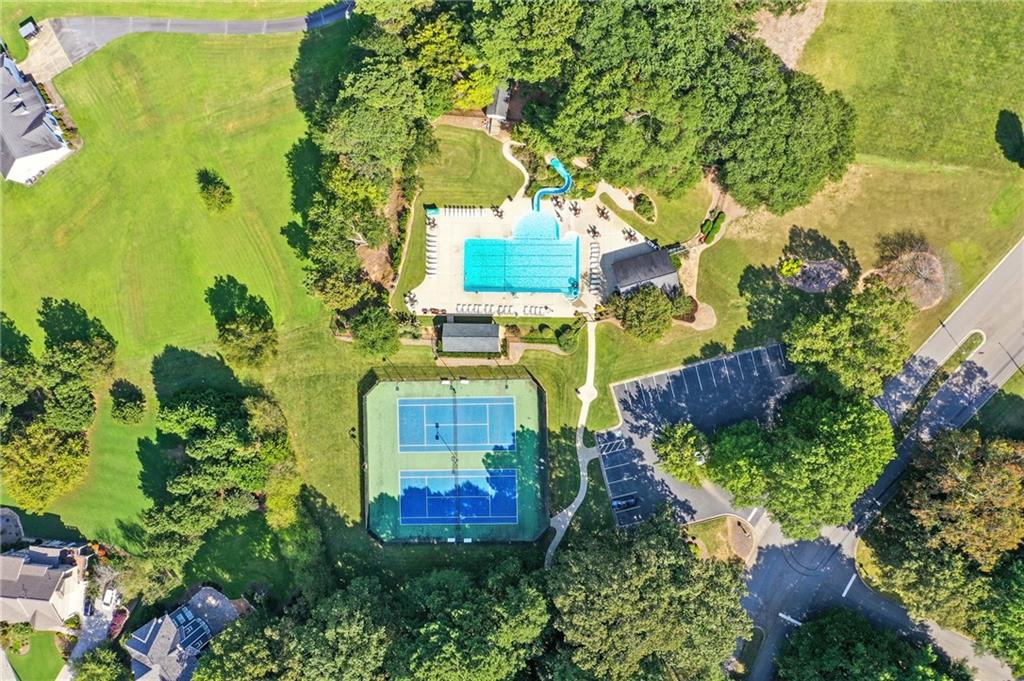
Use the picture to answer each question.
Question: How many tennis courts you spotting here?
2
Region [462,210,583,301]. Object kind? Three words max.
swimming pool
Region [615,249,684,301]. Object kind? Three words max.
building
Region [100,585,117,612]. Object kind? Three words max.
car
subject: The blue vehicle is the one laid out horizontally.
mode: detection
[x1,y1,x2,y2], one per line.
[613,496,637,510]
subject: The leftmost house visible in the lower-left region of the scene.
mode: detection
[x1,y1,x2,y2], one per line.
[0,548,80,635]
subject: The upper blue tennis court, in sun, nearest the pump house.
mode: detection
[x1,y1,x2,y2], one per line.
[367,379,547,461]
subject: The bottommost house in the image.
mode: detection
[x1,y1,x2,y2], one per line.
[123,595,202,681]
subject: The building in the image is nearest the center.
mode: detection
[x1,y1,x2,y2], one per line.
[440,322,500,352]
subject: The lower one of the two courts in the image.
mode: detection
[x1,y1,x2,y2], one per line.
[368,461,548,541]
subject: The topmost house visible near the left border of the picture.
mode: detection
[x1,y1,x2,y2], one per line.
[0,34,79,183]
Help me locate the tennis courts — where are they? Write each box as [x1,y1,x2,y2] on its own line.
[367,379,547,461]
[368,461,548,541]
